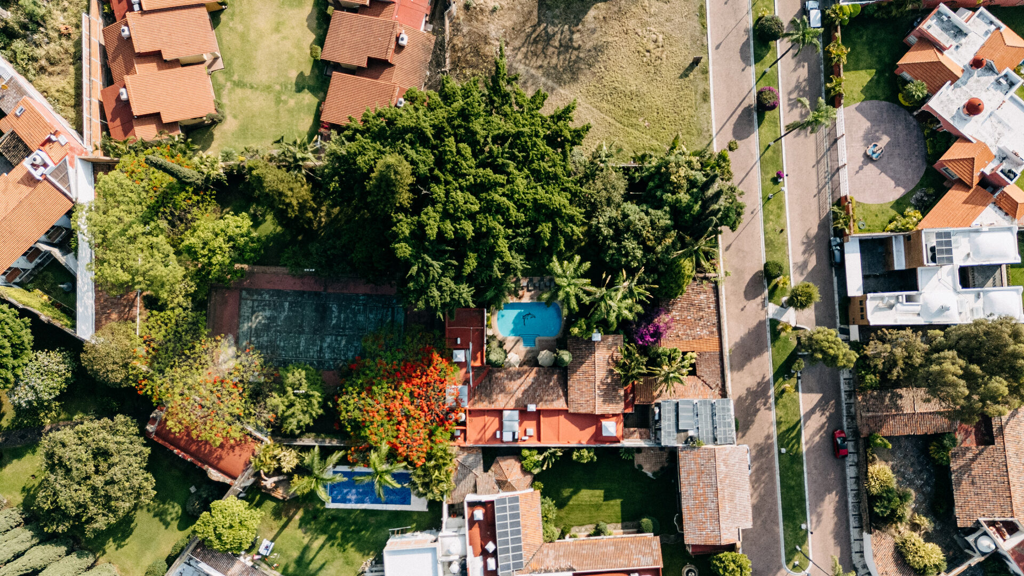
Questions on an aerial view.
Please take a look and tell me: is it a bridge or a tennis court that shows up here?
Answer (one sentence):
Visible in the photo is a tennis court.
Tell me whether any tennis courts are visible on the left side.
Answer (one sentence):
Yes, a tennis court is visible on the left side.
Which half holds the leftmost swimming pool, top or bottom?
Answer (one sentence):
It is in the bottom half that the leftmost swimming pool appears.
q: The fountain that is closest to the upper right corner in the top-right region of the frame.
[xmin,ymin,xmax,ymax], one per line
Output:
[864,140,888,163]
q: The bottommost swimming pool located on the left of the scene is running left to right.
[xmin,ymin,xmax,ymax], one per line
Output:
[325,465,428,511]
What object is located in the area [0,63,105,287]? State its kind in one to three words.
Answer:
house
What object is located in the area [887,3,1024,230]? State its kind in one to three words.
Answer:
house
